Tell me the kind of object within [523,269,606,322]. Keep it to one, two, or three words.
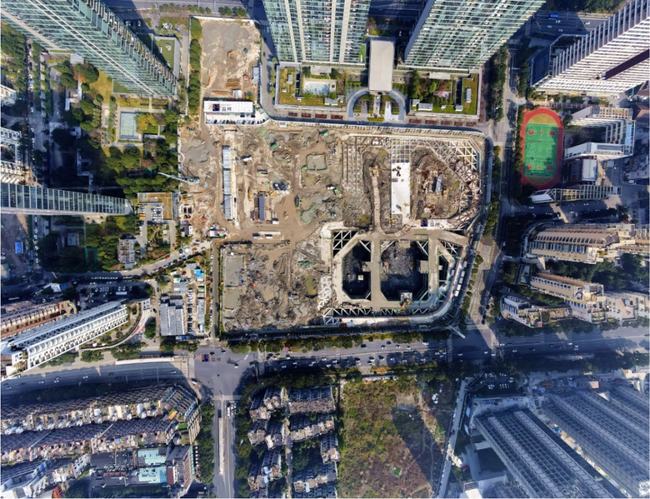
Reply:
house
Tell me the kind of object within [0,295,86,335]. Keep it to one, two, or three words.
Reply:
building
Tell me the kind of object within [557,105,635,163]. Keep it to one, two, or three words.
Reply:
building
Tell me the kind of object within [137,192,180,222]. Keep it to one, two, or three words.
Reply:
house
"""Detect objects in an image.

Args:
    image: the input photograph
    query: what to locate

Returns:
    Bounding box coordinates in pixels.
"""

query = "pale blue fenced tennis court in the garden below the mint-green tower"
[114,109,144,141]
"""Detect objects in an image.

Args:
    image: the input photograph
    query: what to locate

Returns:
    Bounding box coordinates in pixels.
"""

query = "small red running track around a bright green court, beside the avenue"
[521,107,562,189]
